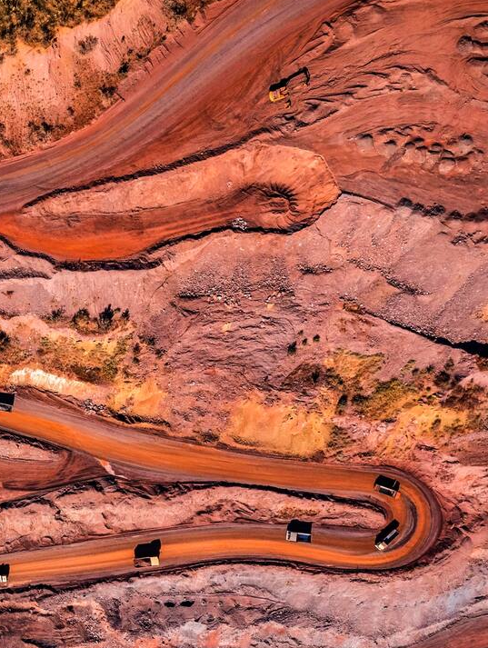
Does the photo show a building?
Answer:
No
